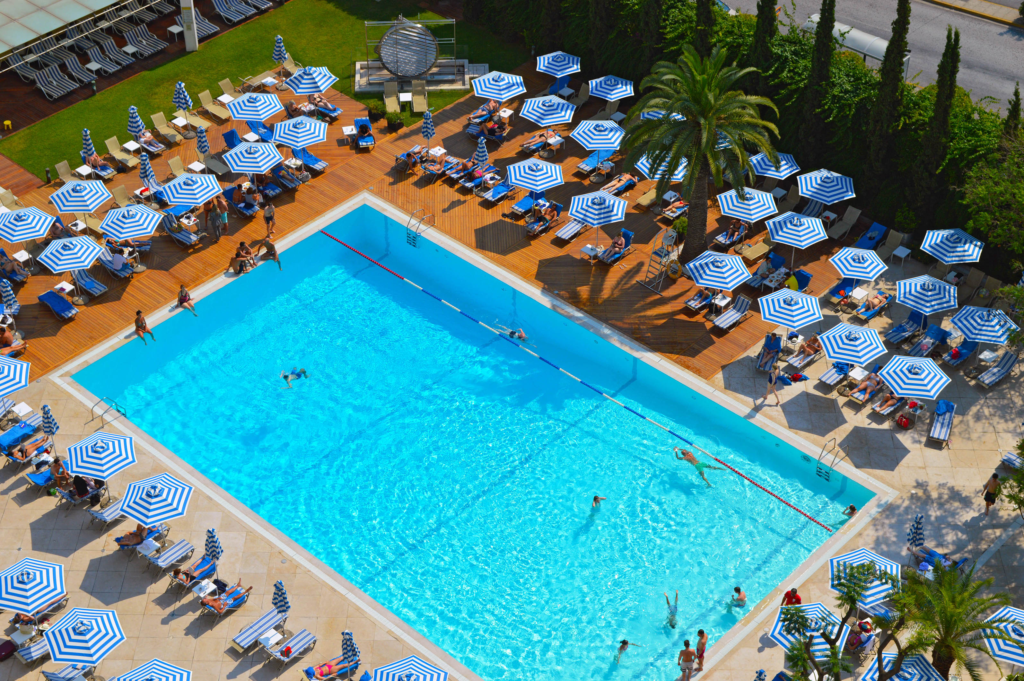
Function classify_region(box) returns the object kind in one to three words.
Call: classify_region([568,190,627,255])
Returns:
umbrella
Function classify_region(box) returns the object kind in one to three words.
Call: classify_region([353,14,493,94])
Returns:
fountain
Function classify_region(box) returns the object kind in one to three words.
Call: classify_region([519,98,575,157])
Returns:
umbrella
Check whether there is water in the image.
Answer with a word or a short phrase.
Yes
